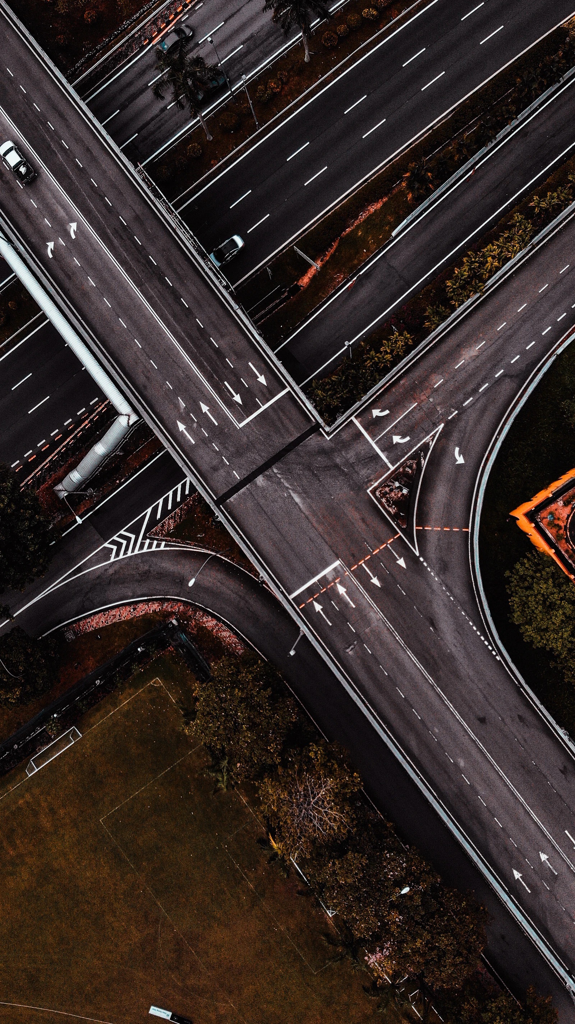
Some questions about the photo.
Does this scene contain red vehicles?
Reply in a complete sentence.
No, this view has no red vehicle in it.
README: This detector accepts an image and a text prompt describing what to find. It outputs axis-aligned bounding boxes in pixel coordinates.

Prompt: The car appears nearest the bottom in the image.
[210,235,244,266]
